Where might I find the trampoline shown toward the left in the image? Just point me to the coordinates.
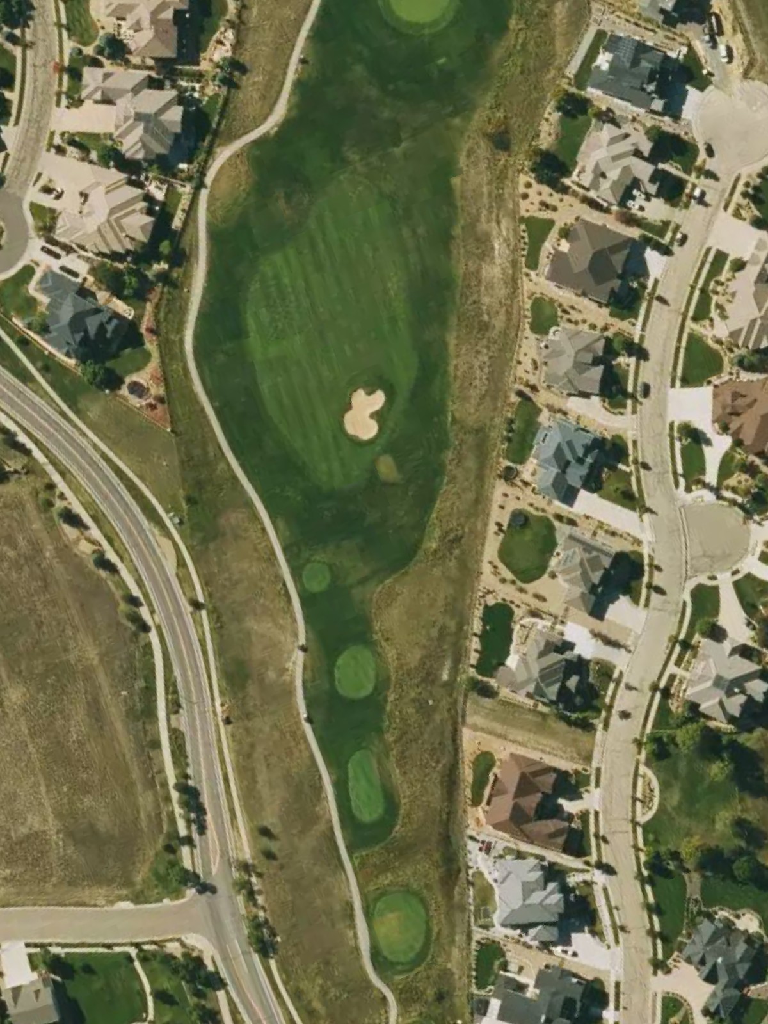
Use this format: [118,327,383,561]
[128,381,144,397]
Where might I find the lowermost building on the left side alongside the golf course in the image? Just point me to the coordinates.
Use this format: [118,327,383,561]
[37,270,136,364]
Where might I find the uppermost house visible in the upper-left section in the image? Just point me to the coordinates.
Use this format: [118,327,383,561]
[102,0,191,65]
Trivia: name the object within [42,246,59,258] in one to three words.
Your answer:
vehicle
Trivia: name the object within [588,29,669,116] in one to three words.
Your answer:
house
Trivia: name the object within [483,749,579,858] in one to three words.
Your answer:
house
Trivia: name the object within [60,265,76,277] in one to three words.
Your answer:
vehicle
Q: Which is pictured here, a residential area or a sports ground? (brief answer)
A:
residential area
